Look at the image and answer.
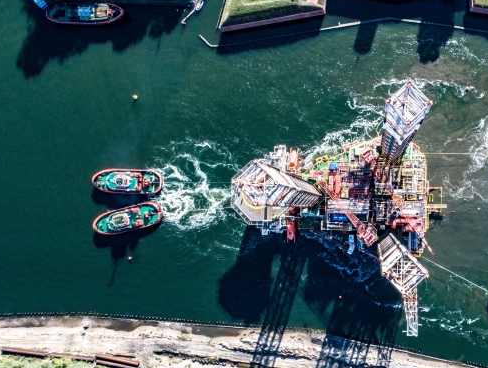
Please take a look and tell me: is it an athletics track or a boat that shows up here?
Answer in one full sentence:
The one in the frame is a boat.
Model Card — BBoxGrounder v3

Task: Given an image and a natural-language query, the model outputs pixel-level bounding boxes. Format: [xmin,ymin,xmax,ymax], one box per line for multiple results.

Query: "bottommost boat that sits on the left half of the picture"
[90,200,166,235]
